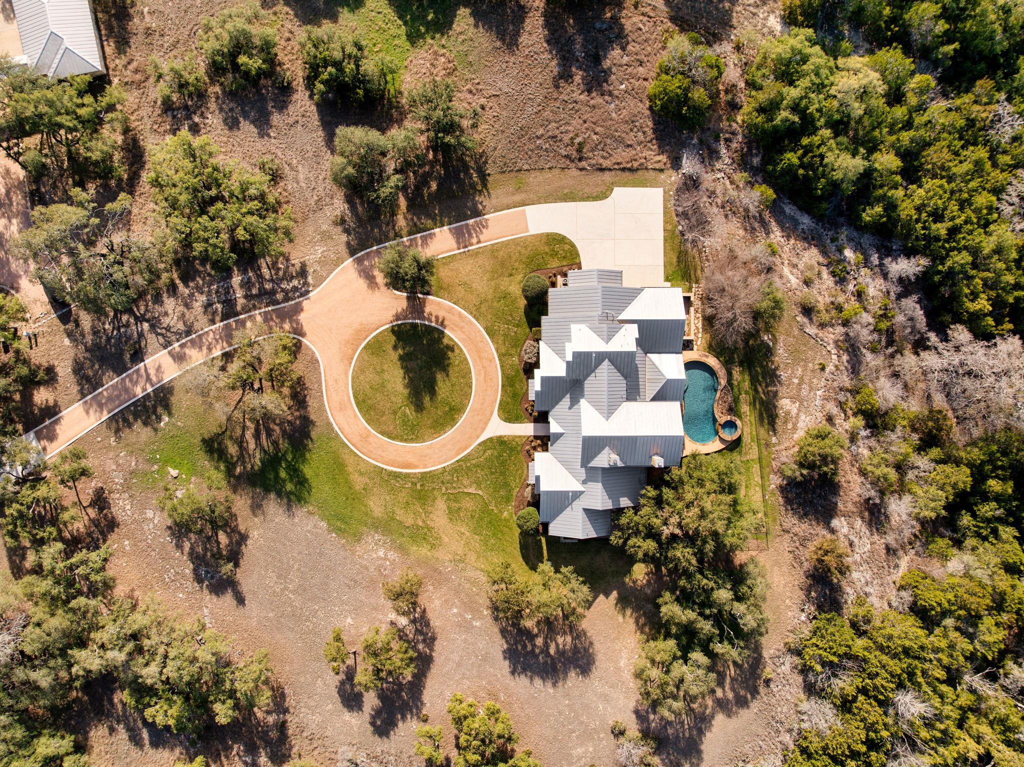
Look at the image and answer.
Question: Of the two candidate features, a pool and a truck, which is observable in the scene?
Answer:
pool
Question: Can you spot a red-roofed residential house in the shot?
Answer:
No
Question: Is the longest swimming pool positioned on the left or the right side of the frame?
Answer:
right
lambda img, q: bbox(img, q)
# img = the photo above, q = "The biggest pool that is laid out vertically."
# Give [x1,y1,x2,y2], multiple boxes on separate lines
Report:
[681,357,722,446]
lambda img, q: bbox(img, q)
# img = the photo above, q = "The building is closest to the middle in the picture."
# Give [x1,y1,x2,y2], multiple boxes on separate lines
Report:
[528,268,687,539]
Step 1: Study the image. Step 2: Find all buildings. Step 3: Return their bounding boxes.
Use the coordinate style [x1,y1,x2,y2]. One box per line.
[528,268,687,539]
[12,0,109,82]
